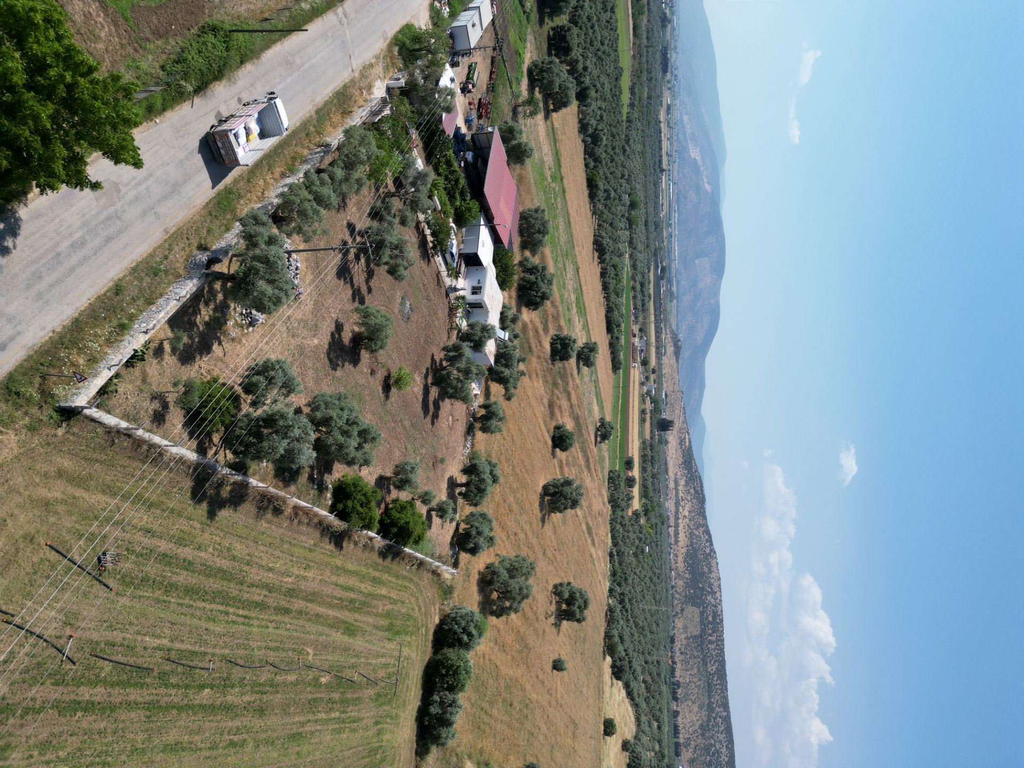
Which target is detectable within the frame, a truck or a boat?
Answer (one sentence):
This aerial view contains a truck.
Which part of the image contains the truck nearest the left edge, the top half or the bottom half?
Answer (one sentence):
It is in the top half that the truck nearest the left edge appears.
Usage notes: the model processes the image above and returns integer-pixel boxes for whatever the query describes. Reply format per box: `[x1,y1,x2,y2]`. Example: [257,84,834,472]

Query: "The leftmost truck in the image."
[209,95,292,166]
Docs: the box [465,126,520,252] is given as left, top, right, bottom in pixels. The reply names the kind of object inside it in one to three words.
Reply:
shed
